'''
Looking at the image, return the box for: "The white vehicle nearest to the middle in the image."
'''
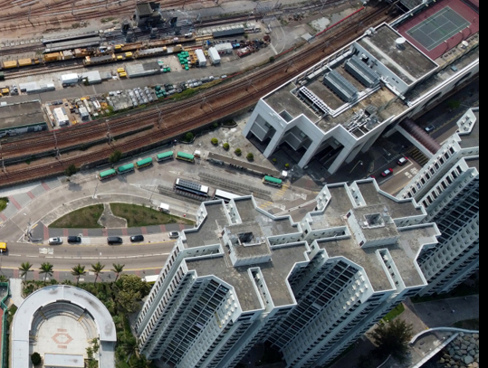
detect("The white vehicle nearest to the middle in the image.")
[215,187,247,203]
